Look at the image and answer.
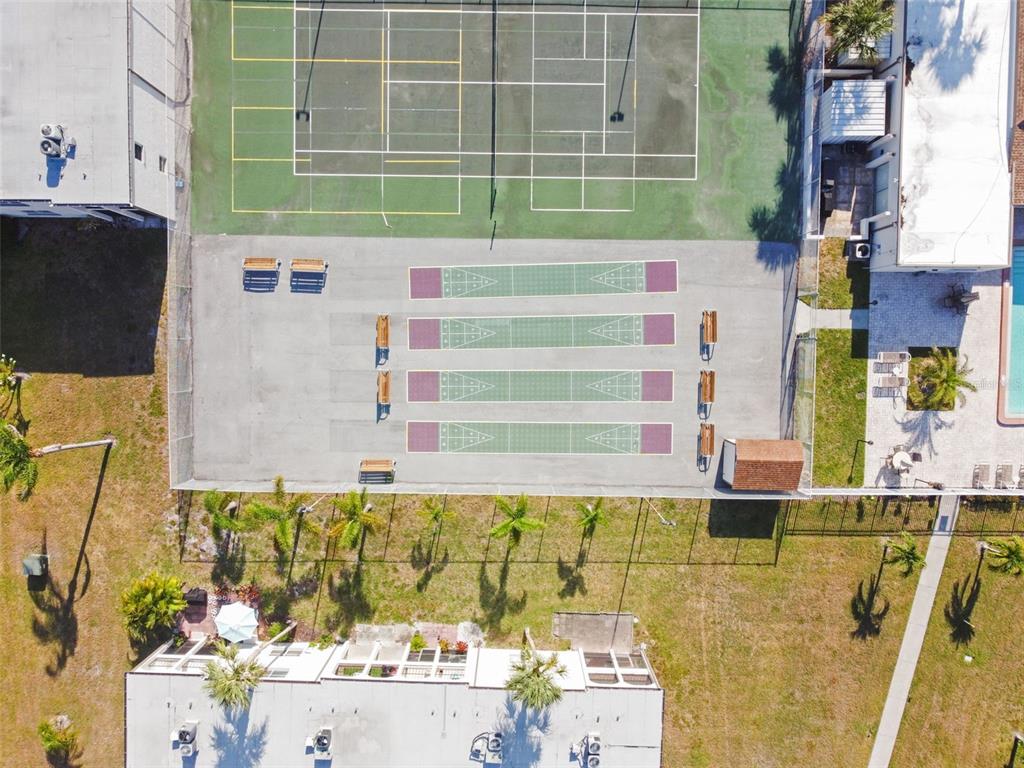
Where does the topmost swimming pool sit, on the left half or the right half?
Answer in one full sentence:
You can find the topmost swimming pool on the right side of the picture.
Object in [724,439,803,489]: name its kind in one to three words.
shed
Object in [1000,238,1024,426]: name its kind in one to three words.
swimming pool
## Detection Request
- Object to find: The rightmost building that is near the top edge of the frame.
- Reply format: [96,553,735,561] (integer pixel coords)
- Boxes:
[869,0,1024,272]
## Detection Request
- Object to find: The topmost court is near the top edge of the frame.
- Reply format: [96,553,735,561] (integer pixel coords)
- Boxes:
[191,0,807,243]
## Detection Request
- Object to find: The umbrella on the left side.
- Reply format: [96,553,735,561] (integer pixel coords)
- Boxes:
[215,596,263,644]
